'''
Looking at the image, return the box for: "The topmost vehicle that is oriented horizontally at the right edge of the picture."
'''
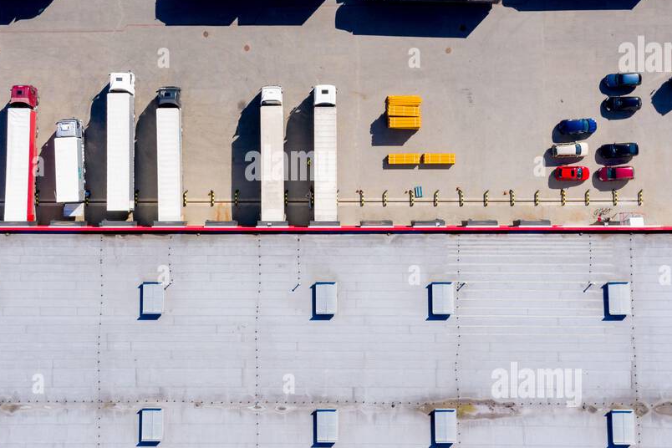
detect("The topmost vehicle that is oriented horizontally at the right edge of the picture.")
[604,70,642,88]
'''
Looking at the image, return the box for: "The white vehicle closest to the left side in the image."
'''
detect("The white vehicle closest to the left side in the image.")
[4,86,40,221]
